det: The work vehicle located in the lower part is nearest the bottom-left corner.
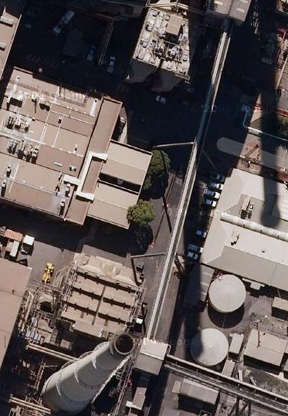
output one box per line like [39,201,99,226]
[43,260,55,282]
